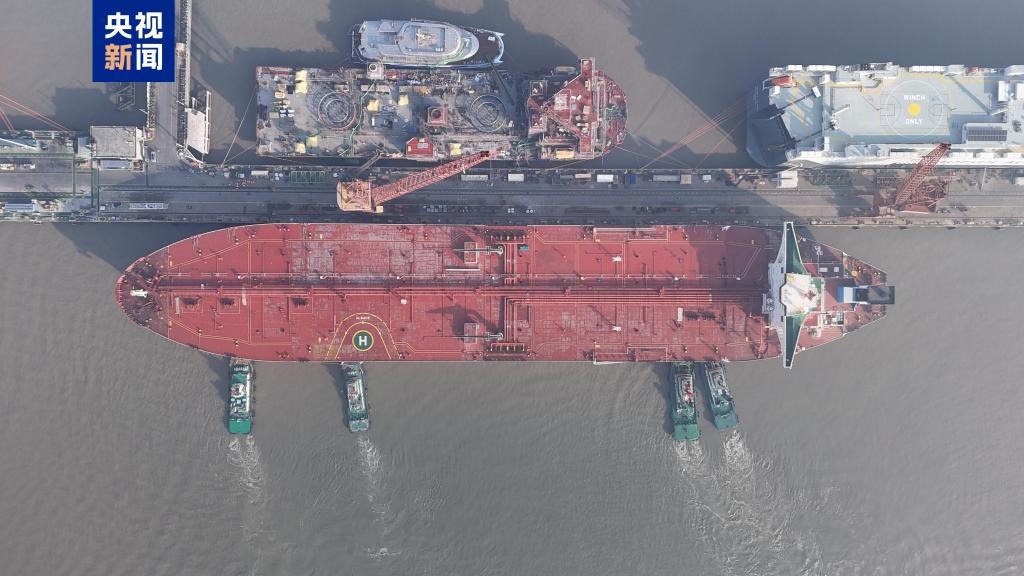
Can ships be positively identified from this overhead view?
Yes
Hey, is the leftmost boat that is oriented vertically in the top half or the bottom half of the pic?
bottom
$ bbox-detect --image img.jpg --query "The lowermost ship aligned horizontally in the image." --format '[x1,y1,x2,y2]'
[114,220,893,369]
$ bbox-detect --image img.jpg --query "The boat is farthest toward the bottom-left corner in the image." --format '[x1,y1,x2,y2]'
[223,359,257,434]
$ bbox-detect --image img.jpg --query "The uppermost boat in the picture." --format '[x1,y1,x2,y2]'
[353,19,505,68]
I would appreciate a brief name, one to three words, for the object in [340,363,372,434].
boat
